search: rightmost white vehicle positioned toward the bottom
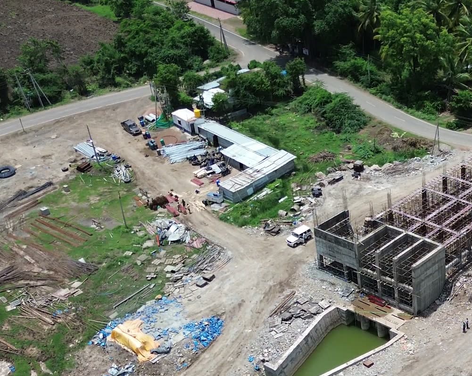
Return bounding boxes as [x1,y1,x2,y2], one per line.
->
[285,223,313,246]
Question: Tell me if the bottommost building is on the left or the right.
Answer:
right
